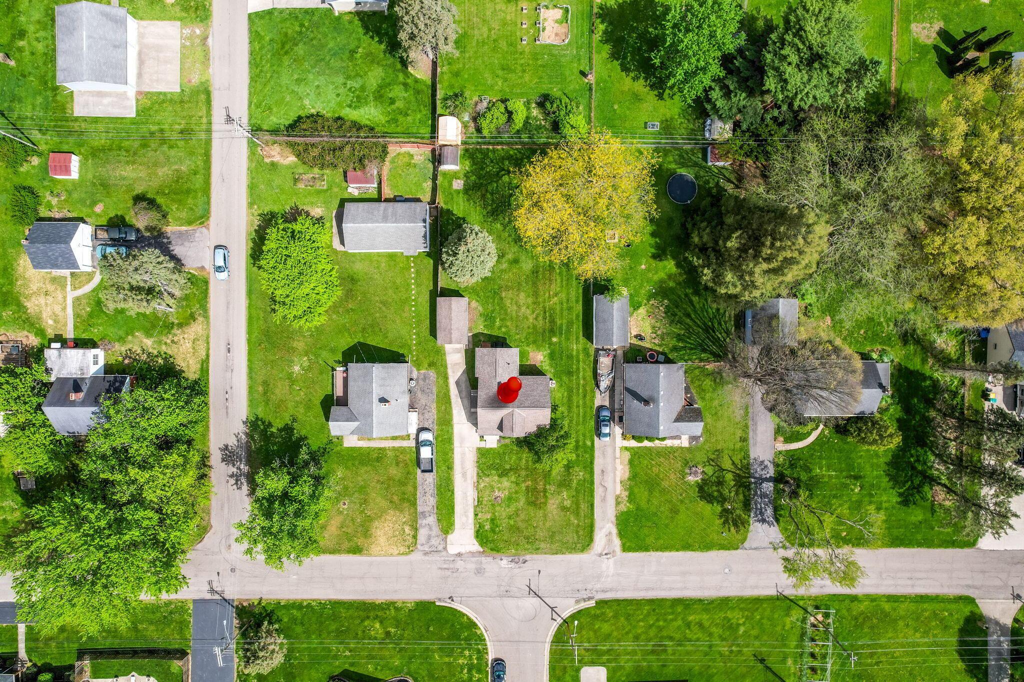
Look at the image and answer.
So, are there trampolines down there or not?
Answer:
Yes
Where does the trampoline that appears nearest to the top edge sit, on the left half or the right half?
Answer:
right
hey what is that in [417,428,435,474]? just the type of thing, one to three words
vehicle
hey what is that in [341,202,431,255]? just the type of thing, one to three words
building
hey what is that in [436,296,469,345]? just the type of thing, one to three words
building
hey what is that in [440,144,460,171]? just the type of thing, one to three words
shed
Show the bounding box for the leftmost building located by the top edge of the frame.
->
[53,1,137,93]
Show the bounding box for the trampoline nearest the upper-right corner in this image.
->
[666,174,697,204]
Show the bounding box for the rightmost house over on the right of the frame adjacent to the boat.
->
[623,364,706,440]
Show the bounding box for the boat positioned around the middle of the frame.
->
[598,347,614,394]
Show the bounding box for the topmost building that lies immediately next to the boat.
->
[593,294,629,346]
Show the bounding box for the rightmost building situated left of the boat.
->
[471,348,552,439]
